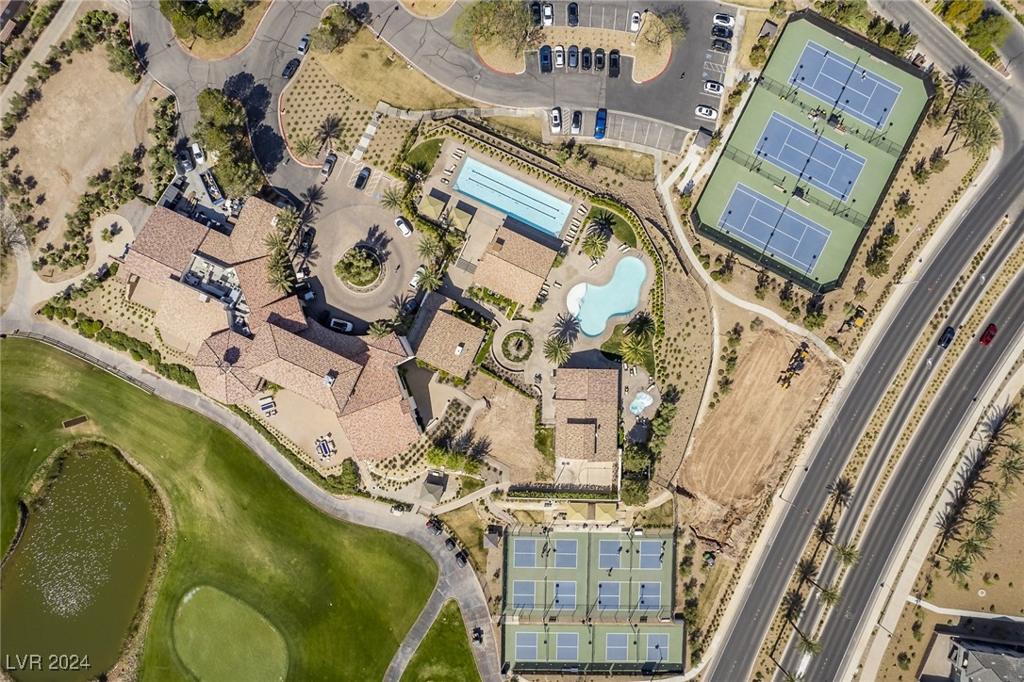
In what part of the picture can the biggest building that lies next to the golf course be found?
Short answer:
left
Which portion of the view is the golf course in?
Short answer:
bottom left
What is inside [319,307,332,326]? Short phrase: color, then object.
black vehicle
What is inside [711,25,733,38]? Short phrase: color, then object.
black vehicle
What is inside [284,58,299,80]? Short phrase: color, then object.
black car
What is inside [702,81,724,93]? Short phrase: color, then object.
white vehicle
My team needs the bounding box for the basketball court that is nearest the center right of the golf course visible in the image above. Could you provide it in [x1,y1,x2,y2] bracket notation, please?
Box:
[555,458,613,491]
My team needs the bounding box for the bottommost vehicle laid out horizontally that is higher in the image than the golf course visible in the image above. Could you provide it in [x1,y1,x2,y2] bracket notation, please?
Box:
[330,319,353,332]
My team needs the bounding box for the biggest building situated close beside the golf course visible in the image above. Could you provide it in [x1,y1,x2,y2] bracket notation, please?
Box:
[124,197,424,460]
